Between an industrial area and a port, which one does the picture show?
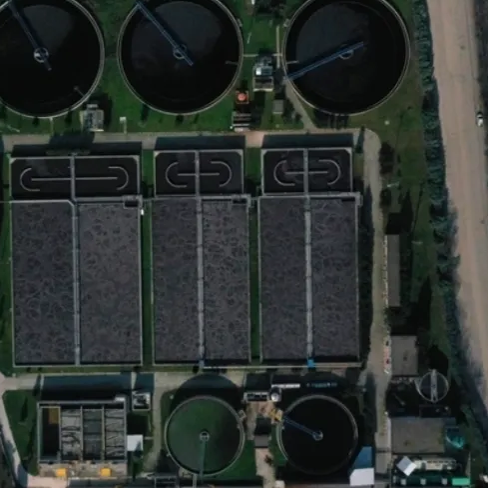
industrial area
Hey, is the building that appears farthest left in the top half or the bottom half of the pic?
top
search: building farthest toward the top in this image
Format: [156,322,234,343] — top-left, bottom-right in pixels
[252,59,273,92]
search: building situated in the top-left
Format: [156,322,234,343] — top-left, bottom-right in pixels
[81,104,104,131]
